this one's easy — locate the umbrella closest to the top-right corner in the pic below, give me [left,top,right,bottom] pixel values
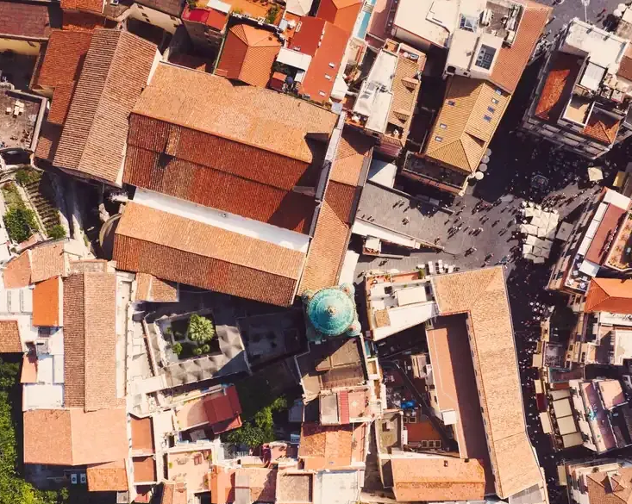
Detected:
[587,167,601,181]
